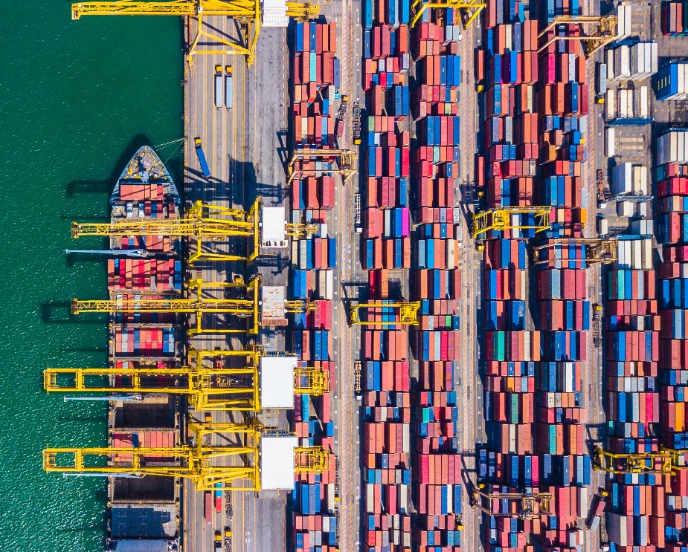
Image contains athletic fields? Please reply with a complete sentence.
No, the scene contains no athletic field.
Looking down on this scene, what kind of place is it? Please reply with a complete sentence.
It's a port.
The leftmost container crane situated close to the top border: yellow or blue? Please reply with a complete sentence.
The color of the leftmost container crane situated close to the top border is yellow.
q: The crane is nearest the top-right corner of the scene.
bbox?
[536,10,619,57]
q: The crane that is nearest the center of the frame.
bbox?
[349,301,423,330]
